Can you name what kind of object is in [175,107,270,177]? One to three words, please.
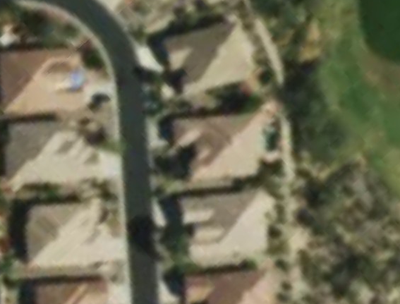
house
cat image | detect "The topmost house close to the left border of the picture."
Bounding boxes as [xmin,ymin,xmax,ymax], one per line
[0,50,86,113]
